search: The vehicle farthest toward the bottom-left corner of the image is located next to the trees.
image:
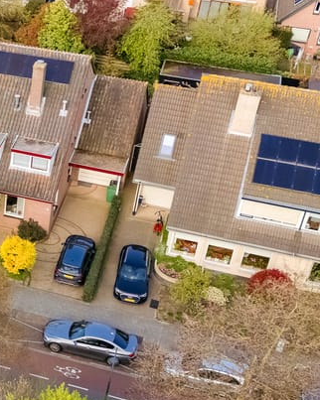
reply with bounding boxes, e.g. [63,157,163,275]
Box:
[44,316,139,364]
